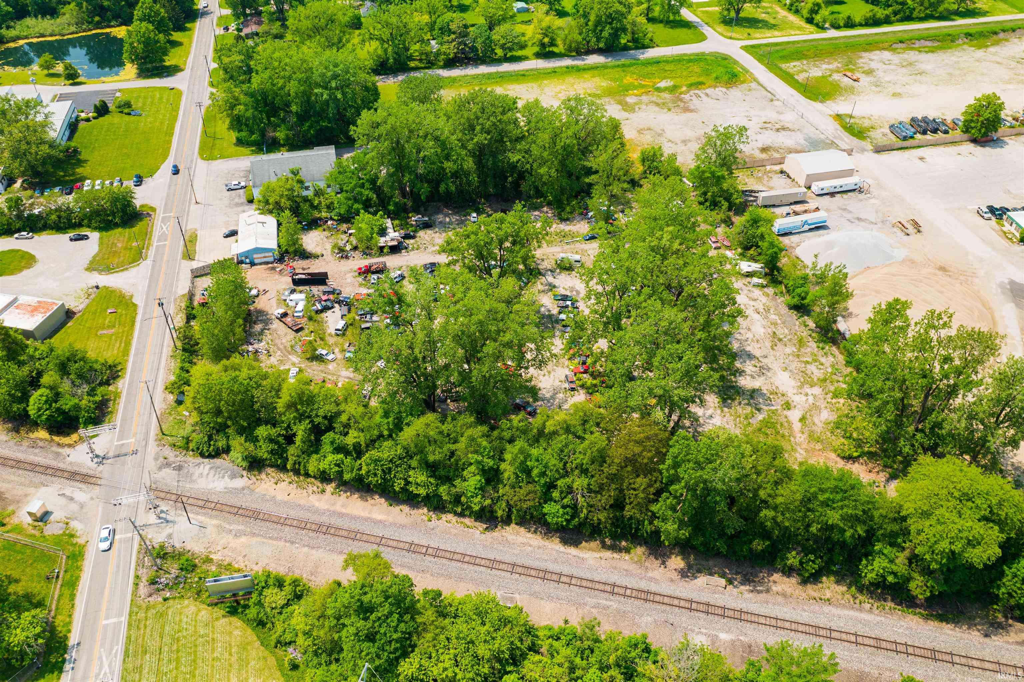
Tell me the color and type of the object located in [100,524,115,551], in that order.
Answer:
white car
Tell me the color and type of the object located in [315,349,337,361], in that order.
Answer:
white vehicle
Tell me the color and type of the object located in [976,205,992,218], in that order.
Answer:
white vehicle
